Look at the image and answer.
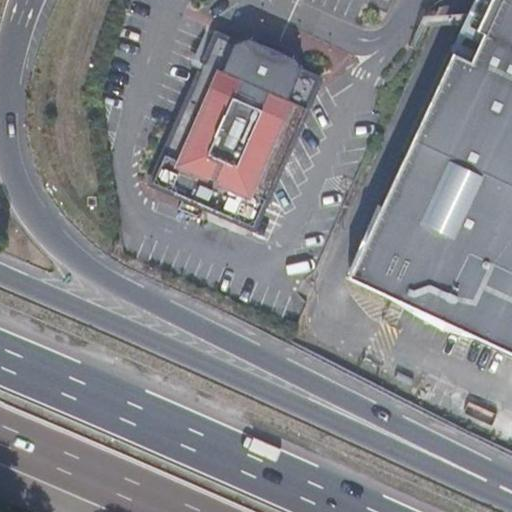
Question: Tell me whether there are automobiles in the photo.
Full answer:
Yes, the frame does contain an automobile.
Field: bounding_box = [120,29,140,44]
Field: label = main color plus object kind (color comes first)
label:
white car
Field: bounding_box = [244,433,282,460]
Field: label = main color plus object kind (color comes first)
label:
white truck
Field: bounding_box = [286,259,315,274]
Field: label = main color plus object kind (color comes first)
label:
white vehicle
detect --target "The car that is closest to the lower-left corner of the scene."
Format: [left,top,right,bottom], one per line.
[14,438,34,452]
